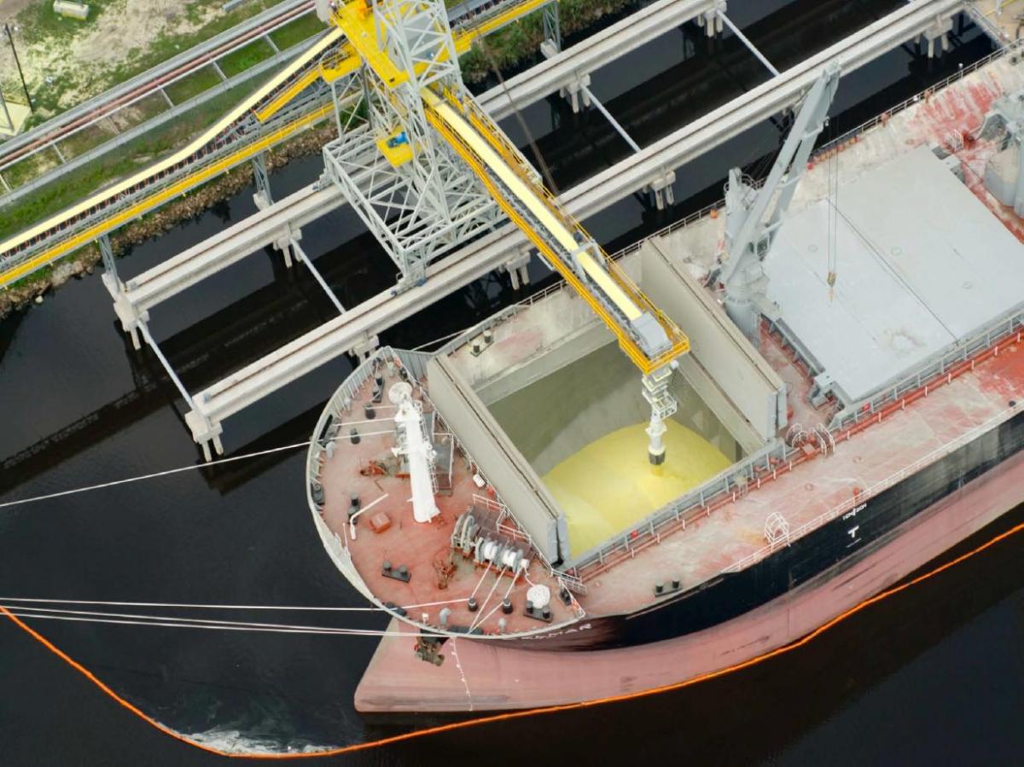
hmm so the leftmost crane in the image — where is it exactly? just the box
[706,57,842,359]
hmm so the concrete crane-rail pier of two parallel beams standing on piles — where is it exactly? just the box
[102,0,970,462]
